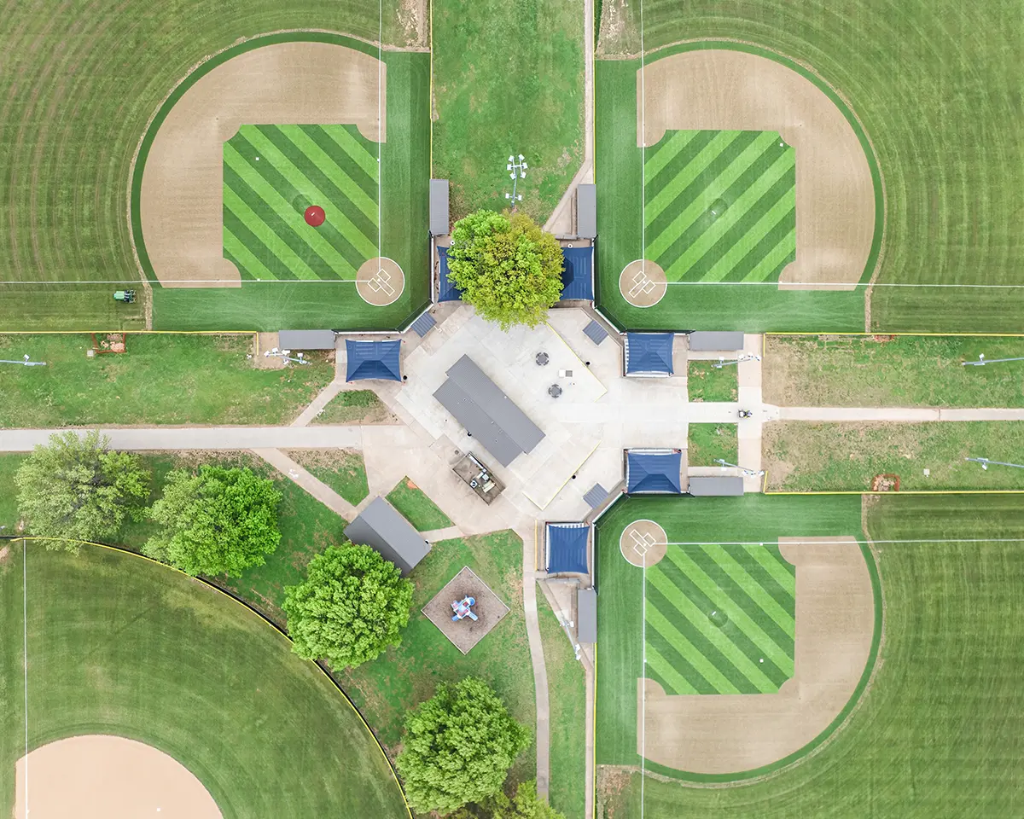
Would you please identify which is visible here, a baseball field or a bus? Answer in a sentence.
There is a baseball field in the scene.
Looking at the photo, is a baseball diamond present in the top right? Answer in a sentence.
Yes, a baseball diamond shows up in the top right.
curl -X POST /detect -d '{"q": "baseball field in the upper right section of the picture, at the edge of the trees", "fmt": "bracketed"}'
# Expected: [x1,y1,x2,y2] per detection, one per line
[596,0,1024,334]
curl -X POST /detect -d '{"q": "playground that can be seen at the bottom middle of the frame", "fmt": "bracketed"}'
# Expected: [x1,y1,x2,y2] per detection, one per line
[421,567,509,655]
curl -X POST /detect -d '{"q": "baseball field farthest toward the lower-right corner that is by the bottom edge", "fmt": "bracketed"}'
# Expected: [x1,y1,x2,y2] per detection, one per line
[596,494,1024,819]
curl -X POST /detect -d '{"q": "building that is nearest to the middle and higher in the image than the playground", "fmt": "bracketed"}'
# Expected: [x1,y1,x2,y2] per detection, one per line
[433,354,546,467]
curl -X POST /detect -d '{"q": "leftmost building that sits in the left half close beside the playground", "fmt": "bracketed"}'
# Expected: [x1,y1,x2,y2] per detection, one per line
[344,497,431,579]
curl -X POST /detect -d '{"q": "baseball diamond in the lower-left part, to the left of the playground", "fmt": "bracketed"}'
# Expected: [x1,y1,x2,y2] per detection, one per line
[0,538,407,819]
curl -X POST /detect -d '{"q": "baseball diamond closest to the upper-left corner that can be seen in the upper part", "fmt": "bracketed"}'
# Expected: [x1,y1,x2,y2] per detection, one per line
[0,0,430,332]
